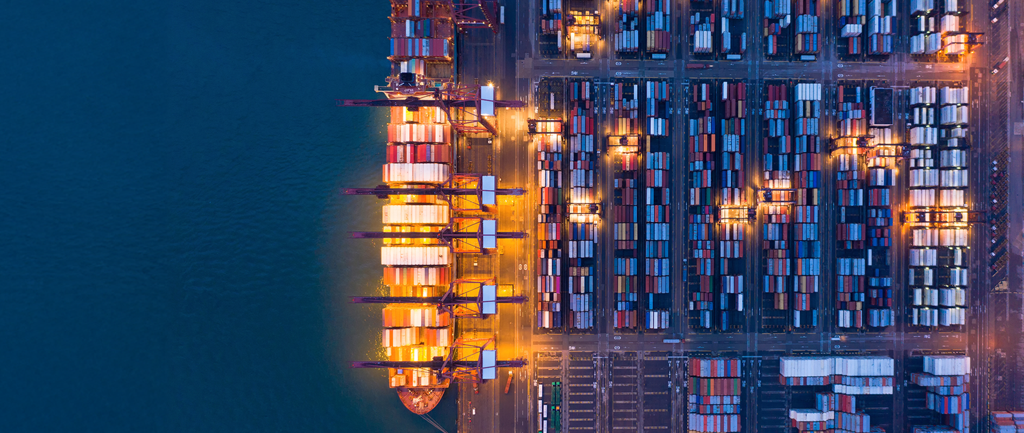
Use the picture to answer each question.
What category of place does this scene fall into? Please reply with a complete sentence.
This looks like a port.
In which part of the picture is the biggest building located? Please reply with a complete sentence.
The biggest building is located in the top right region of the scene.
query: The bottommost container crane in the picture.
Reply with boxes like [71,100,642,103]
[349,320,530,384]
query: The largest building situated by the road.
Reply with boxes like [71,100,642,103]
[868,87,893,125]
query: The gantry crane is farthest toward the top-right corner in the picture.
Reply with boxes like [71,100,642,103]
[937,34,985,58]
